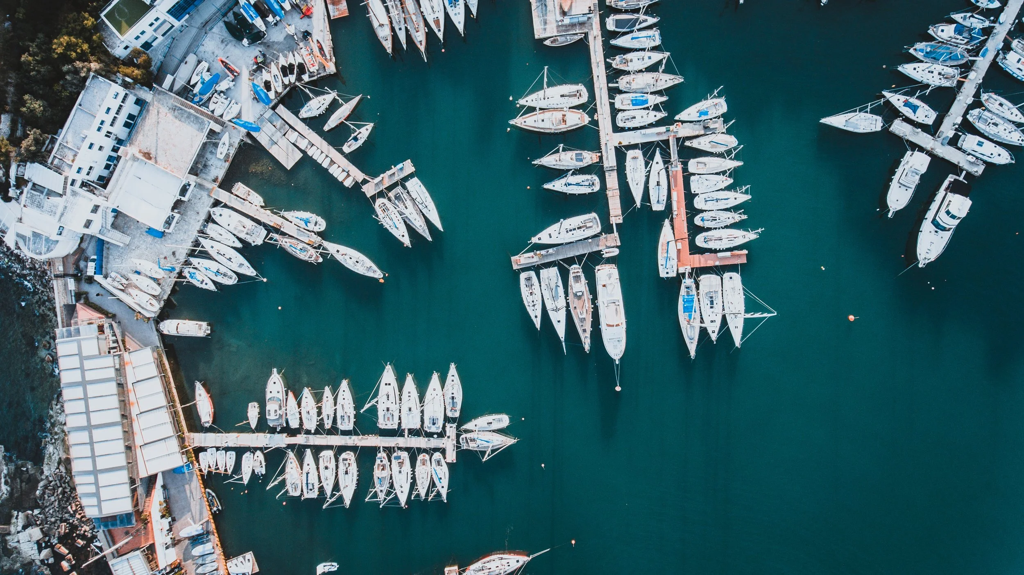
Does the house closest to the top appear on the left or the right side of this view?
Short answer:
left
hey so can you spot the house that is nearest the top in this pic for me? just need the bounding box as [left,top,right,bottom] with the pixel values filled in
[99,0,185,61]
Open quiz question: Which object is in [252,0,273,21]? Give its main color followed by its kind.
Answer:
black boat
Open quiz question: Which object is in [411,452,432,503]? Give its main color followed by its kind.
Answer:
white boat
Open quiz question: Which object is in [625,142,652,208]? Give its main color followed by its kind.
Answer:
white boat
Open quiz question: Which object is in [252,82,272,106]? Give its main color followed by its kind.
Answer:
blue boat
